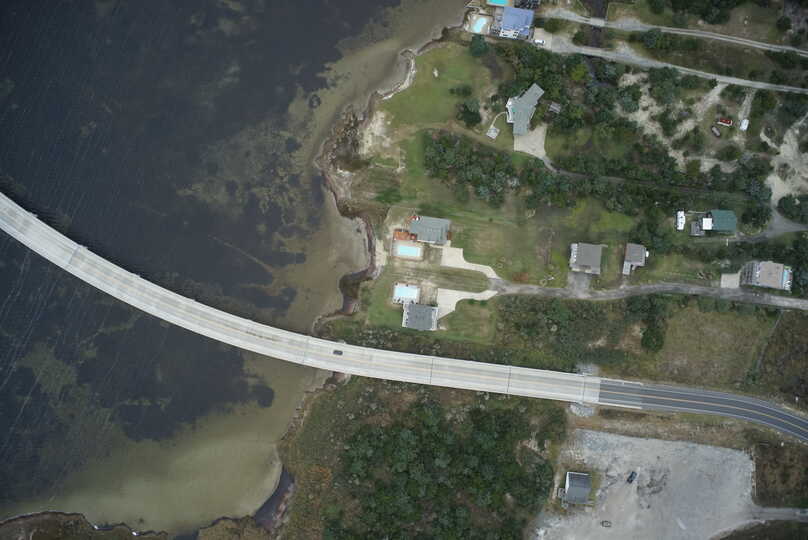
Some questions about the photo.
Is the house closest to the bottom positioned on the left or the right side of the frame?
right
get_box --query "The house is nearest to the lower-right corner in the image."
[558,471,594,509]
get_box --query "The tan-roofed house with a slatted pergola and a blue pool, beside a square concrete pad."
[739,262,784,288]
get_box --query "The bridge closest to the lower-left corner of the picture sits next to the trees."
[0,189,597,403]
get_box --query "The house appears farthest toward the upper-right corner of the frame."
[690,210,737,235]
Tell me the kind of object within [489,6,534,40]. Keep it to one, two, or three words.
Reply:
house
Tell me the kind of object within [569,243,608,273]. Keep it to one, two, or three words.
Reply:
house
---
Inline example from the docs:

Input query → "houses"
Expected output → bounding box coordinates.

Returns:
[569,243,608,273]
[489,6,534,40]
[394,216,452,243]
[739,262,784,288]
[558,471,594,509]
[402,298,438,331]
[507,83,544,136]
[622,243,646,275]
[690,210,737,235]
